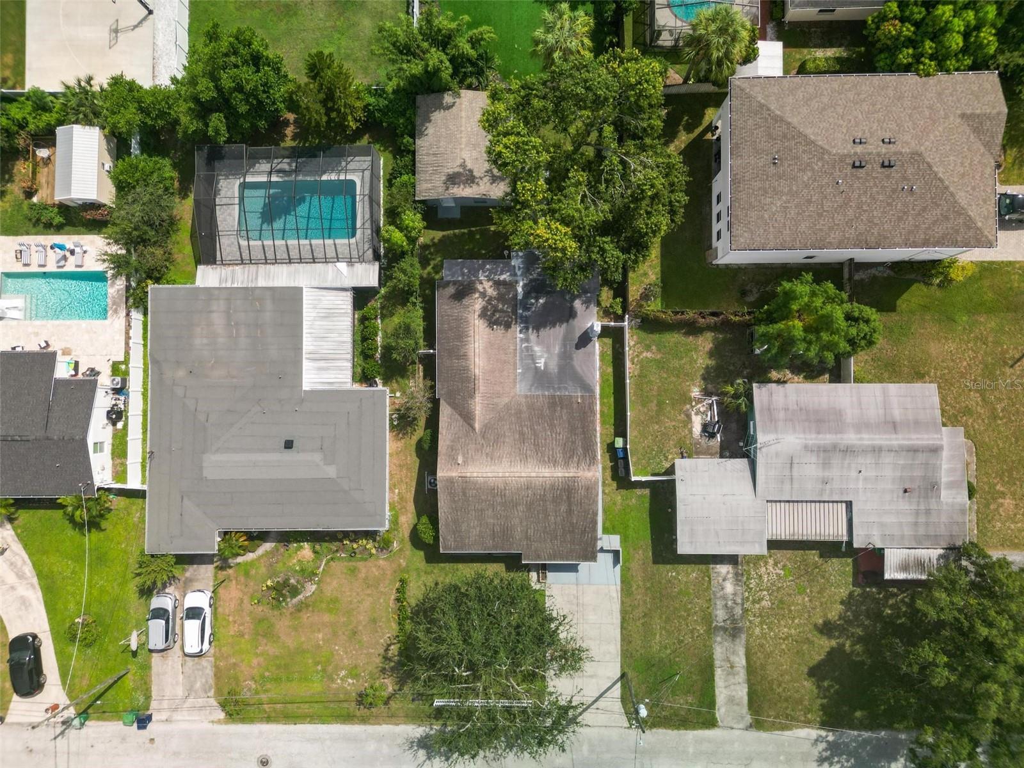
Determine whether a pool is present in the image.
Yes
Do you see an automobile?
Yes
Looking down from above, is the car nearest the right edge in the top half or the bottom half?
top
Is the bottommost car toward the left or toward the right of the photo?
left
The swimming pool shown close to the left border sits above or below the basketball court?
below it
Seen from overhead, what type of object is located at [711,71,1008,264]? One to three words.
house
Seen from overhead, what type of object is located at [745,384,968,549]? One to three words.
house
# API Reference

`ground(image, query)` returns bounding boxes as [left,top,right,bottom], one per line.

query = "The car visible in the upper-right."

[999,188,1024,218]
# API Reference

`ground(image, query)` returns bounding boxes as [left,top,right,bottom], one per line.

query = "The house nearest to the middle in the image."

[436,250,600,563]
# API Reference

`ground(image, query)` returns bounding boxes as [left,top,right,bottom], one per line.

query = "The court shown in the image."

[26,0,154,90]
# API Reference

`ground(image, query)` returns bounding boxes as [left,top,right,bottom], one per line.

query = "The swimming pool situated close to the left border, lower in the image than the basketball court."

[0,267,111,324]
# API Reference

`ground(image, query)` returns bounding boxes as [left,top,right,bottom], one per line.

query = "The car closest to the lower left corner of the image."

[1,631,43,698]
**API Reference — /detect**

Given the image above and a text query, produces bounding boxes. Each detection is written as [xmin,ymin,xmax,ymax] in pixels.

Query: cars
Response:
[179,589,212,654]
[999,188,1024,218]
[142,593,176,653]
[1,631,43,698]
